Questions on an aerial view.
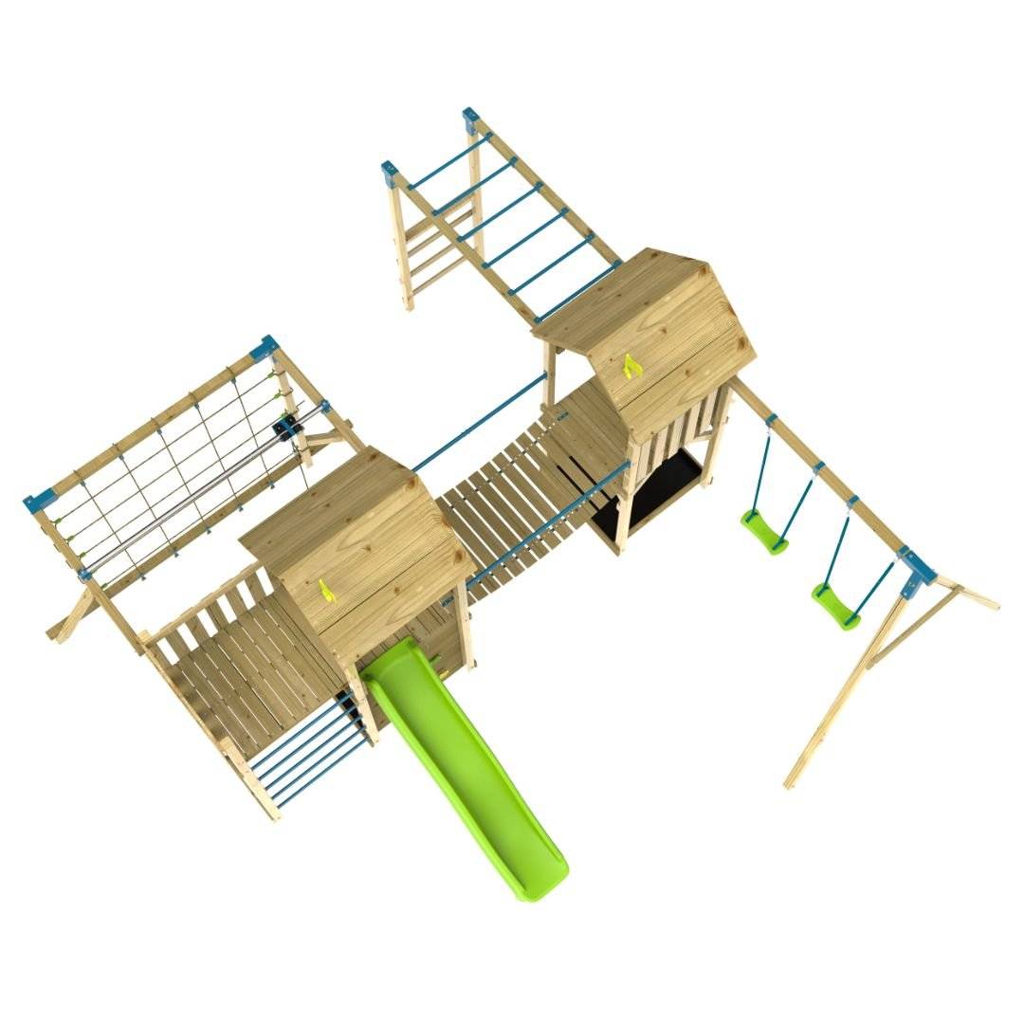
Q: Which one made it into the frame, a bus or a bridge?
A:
bridge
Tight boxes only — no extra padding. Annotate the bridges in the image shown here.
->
[416,375,630,603]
